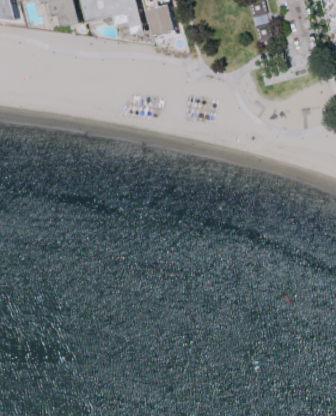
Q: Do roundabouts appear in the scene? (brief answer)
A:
No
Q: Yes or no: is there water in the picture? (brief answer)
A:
Yes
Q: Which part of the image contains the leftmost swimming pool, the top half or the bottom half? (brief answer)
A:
top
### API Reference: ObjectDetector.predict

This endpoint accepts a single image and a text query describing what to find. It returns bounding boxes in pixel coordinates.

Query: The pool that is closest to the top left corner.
[26,2,45,26]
